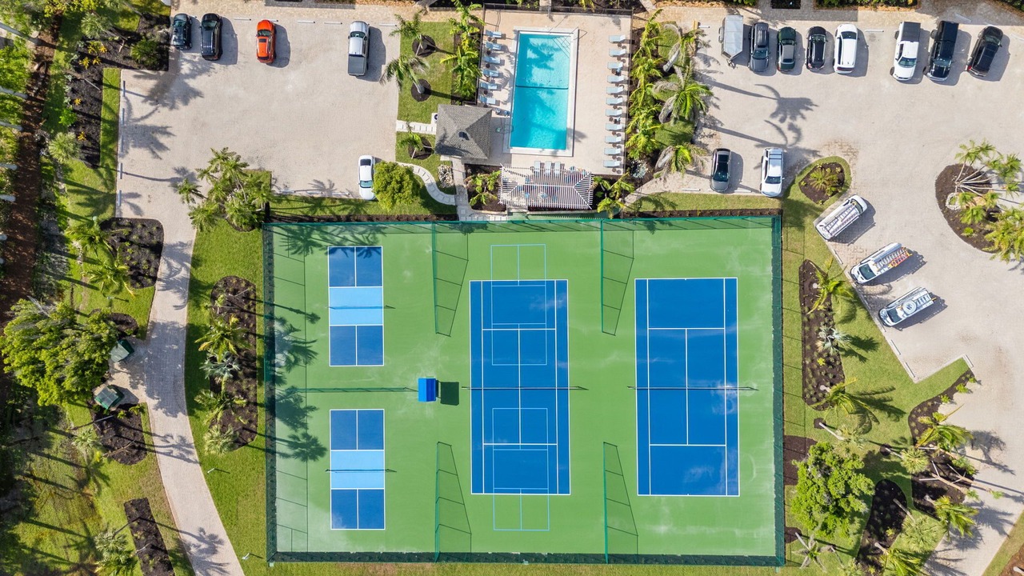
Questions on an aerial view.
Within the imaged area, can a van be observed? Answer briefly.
Yes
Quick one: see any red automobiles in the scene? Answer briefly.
Yes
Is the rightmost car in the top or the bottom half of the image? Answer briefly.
top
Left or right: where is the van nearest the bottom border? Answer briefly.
right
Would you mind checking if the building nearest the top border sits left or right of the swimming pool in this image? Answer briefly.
to the left of it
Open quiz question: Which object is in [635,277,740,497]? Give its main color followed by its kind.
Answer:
blue tennis court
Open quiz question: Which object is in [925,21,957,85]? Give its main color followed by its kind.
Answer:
black truck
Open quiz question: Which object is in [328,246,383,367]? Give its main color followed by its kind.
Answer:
blue sports court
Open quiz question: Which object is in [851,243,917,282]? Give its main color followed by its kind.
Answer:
white van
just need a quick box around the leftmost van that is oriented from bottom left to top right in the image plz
[815,197,865,240]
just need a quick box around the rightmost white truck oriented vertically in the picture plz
[890,21,920,82]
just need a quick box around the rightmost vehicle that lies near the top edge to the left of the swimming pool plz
[348,21,370,77]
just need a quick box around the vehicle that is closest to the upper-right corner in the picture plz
[967,27,1000,76]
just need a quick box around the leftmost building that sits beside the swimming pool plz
[435,104,492,159]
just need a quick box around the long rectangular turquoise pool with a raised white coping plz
[505,27,580,156]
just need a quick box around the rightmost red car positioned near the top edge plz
[254,20,277,64]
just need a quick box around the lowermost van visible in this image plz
[878,287,941,325]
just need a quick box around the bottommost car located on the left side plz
[356,156,377,200]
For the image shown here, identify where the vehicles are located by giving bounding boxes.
[761,149,784,196]
[890,21,920,82]
[200,14,224,61]
[748,22,771,72]
[710,148,732,193]
[925,21,957,85]
[967,27,1000,76]
[356,156,377,200]
[804,27,828,72]
[815,197,865,240]
[775,27,798,73]
[834,26,858,73]
[851,243,917,282]
[878,287,941,325]
[254,20,277,64]
[171,13,194,52]
[348,21,370,77]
